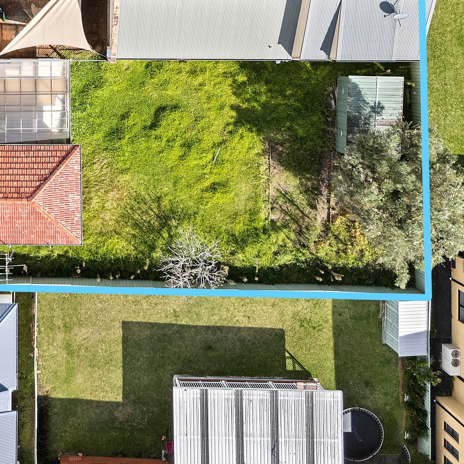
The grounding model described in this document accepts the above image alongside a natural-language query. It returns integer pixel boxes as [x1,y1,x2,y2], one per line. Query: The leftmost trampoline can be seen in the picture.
[344,408,384,455]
